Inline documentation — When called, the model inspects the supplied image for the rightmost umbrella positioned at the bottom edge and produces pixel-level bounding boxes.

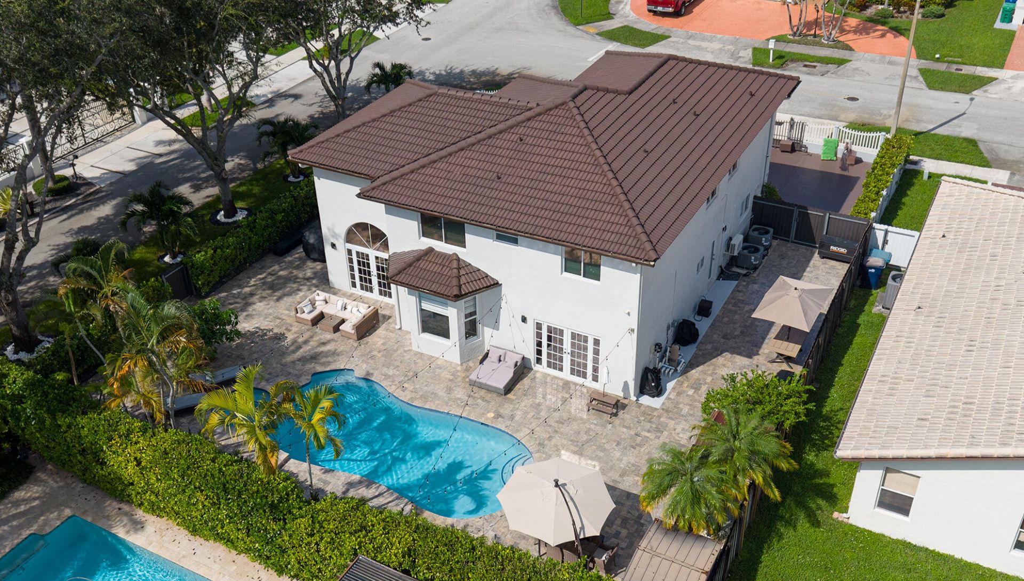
[496,459,618,573]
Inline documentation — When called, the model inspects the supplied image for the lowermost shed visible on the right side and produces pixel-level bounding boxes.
[618,524,724,581]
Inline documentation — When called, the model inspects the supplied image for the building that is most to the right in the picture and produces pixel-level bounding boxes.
[833,165,1024,569]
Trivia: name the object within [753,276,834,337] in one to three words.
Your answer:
umbrella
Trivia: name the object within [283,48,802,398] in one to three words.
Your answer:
house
